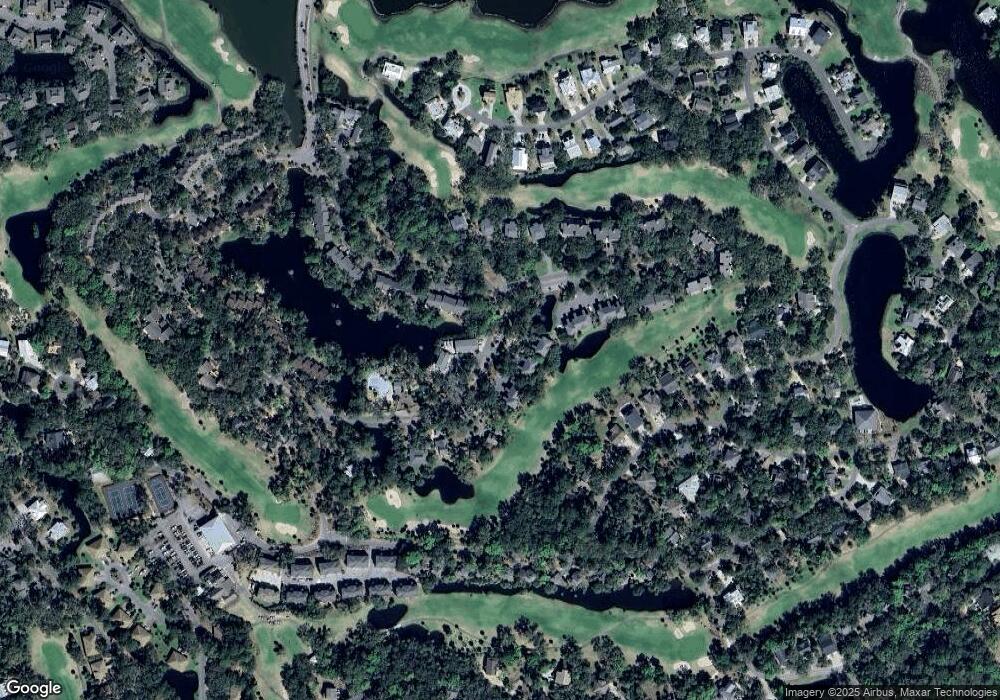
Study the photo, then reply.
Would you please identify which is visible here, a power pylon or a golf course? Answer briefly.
golf course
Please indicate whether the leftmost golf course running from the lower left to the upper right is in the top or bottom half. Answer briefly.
top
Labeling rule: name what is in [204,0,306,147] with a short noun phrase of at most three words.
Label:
pond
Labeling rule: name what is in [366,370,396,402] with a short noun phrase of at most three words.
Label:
swimming pool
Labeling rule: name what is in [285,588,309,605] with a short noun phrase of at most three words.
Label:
building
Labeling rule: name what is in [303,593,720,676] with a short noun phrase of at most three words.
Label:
golf course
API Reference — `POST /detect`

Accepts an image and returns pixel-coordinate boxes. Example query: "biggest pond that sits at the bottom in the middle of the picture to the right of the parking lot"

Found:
[427,582,696,611]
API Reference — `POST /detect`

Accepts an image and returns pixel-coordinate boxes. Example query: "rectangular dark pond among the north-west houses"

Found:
[1,53,75,82]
